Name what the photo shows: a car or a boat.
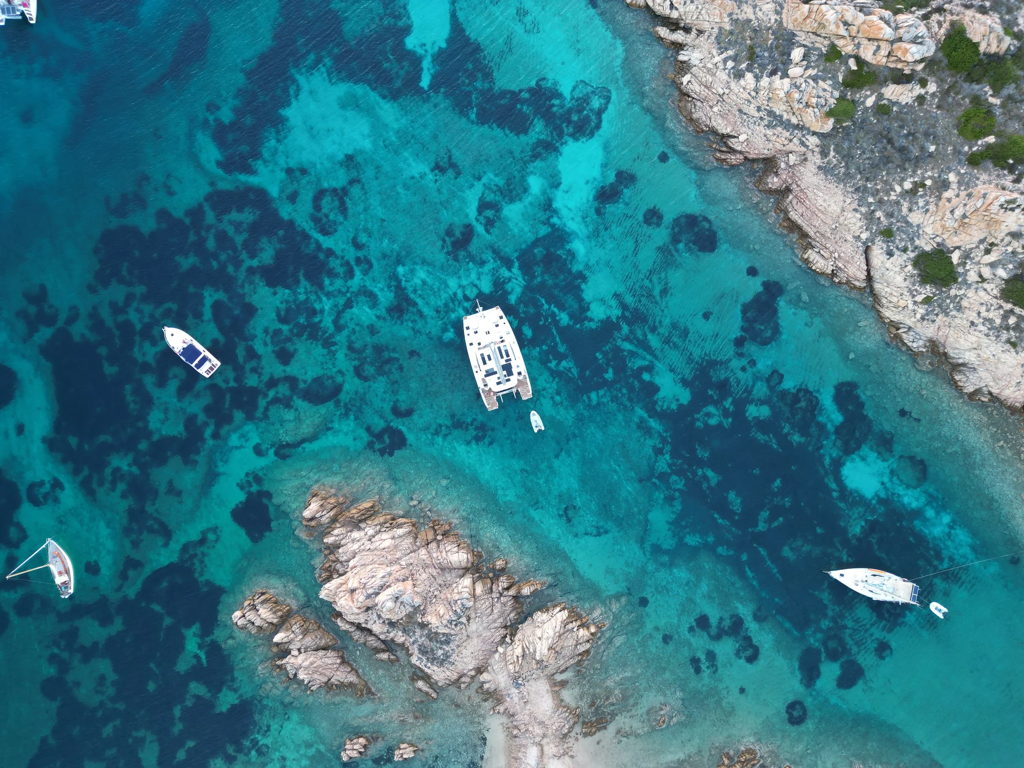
boat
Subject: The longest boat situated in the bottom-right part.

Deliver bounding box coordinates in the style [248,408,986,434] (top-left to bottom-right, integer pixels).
[823,567,921,610]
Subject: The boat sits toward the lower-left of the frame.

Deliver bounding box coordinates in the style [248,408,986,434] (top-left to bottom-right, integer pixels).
[7,536,75,599]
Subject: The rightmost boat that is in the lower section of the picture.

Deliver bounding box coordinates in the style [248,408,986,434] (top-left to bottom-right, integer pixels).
[929,601,948,618]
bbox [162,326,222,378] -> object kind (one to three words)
boat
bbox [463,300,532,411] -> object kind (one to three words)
boat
